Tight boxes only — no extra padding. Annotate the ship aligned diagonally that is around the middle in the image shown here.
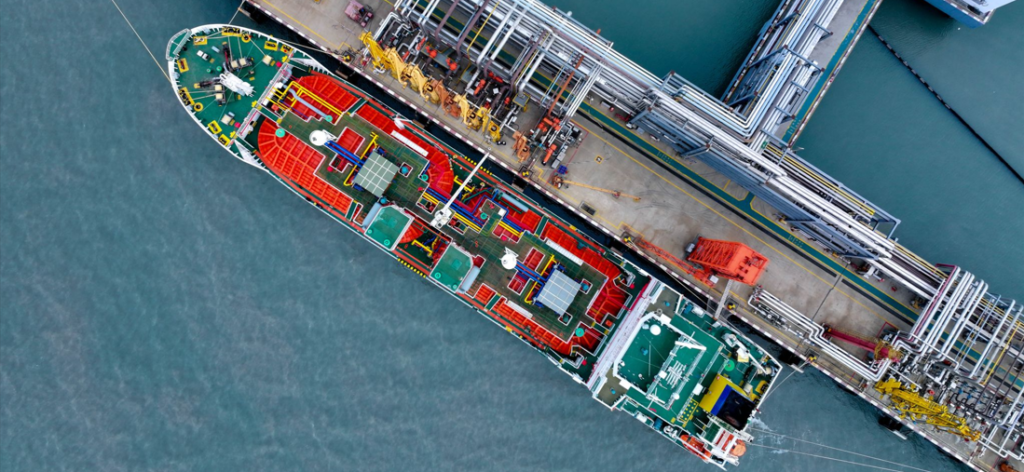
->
[163,24,782,472]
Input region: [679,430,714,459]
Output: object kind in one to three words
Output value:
boat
